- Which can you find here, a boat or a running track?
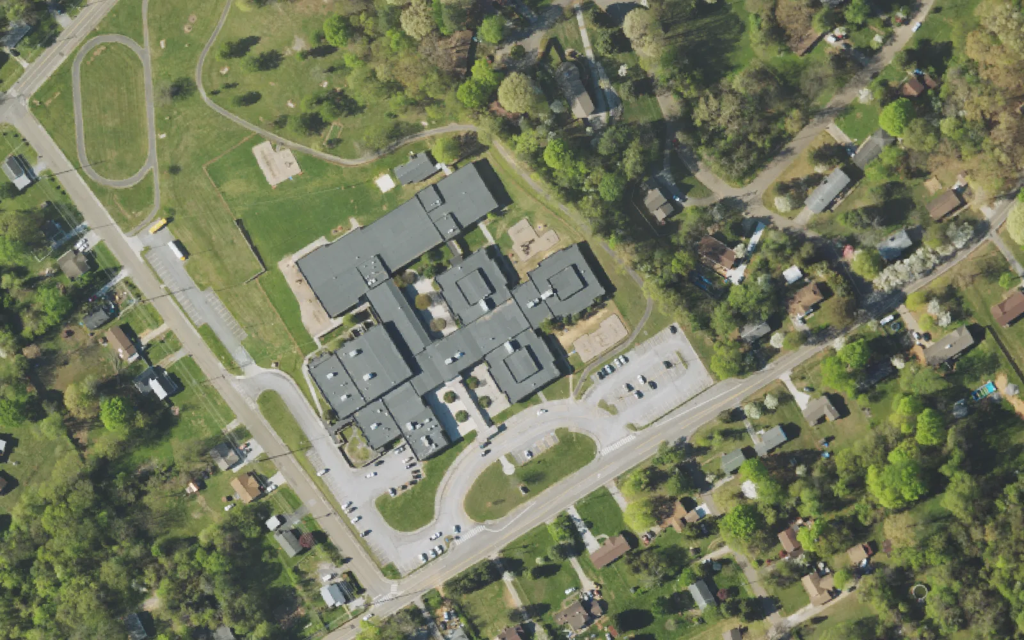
running track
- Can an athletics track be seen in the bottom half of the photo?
No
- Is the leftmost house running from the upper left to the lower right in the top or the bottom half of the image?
top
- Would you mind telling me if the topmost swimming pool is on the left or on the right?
right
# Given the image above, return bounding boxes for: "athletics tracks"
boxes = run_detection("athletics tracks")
[73,34,156,189]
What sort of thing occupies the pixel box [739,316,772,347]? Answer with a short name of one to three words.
house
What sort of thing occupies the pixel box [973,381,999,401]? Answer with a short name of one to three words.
swimming pool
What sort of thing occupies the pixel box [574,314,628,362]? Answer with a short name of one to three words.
playground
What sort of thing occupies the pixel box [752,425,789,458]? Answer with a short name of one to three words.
house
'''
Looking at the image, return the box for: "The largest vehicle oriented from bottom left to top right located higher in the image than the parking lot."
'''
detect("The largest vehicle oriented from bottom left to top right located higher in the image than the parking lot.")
[149,219,167,234]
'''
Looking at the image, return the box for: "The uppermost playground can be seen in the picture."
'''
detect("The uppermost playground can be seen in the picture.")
[252,141,301,187]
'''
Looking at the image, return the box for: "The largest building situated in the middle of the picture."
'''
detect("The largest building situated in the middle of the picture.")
[296,163,605,461]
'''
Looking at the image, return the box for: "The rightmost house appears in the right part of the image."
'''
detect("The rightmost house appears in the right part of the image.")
[985,288,1024,330]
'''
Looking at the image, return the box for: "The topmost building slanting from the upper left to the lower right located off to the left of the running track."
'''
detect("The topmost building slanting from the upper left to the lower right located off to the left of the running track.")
[0,153,30,190]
